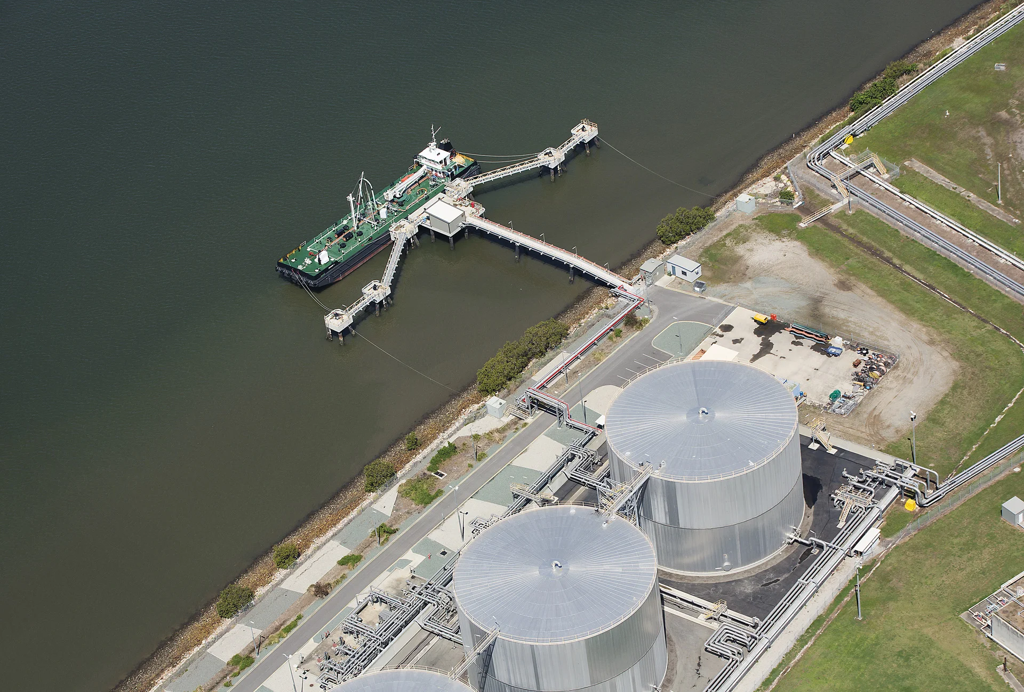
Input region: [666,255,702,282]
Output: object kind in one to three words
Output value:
building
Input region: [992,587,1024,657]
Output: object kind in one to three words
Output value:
building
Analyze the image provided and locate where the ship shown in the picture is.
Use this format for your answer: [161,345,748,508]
[281,116,481,285]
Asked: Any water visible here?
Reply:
Yes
